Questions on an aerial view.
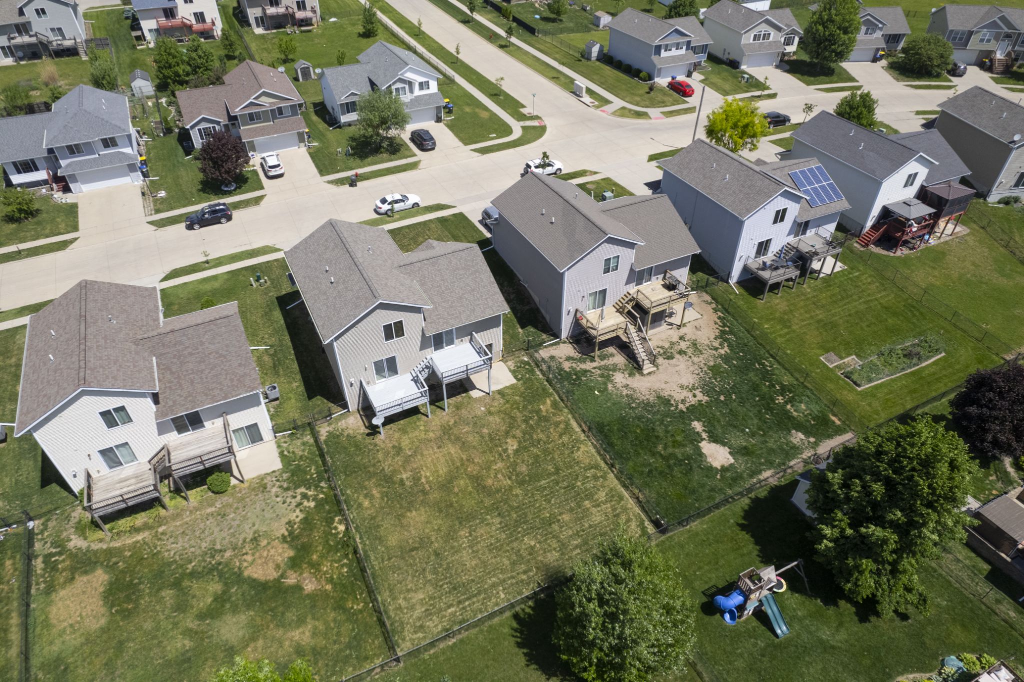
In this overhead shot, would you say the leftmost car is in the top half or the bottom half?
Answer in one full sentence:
The leftmost car sits in the top half of the picture.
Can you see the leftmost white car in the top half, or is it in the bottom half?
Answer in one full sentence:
Seen from above, the leftmost white car lies in the top half of the view.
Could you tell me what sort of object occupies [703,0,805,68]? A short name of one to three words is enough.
house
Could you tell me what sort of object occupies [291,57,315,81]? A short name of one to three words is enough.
shed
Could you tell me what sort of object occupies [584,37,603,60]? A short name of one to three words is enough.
shed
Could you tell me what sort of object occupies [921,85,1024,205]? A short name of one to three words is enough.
house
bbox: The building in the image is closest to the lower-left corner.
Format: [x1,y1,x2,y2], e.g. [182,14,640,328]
[13,278,292,498]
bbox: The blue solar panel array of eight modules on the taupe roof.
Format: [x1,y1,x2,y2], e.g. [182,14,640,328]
[789,164,845,207]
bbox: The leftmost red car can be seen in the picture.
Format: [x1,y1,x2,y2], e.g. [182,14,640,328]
[669,80,696,95]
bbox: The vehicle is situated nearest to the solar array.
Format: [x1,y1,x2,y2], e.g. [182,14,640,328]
[765,109,793,128]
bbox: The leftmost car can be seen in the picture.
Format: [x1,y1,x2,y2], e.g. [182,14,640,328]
[184,201,232,230]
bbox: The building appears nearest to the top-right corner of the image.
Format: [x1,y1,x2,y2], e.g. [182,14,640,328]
[926,6,1024,75]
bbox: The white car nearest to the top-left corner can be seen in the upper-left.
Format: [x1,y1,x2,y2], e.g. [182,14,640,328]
[261,153,284,175]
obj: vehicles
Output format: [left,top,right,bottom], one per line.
[261,153,284,175]
[184,201,232,230]
[375,193,422,215]
[521,158,562,176]
[950,58,967,73]
[478,203,501,229]
[765,109,793,128]
[413,127,435,148]
[669,80,696,95]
